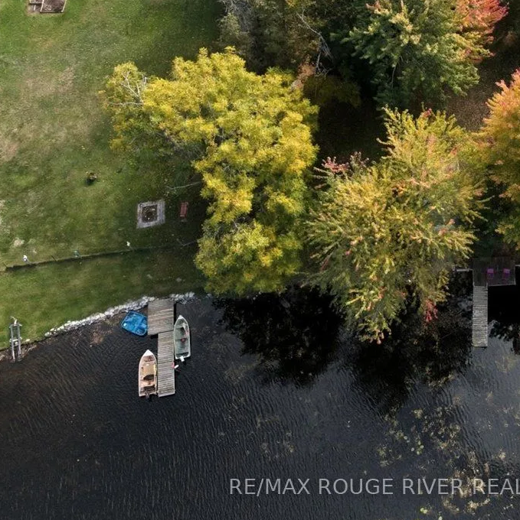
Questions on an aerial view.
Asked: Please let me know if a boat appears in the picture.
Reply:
Yes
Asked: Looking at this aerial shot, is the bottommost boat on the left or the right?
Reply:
left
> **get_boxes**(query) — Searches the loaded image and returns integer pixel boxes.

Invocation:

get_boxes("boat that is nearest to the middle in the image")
[175,313,191,367]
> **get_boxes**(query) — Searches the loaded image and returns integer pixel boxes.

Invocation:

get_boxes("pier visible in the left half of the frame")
[147,298,178,398]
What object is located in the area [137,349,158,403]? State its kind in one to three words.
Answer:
boat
